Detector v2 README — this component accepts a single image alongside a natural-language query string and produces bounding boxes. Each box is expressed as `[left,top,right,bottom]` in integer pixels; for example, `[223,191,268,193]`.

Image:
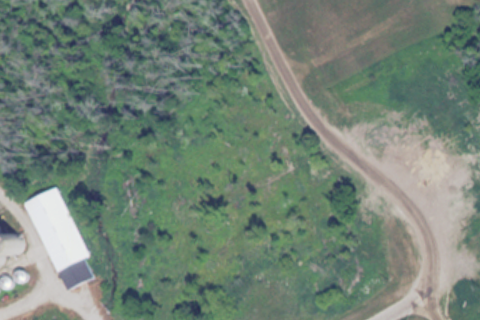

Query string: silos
[13,270,30,286]
[0,276,15,292]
